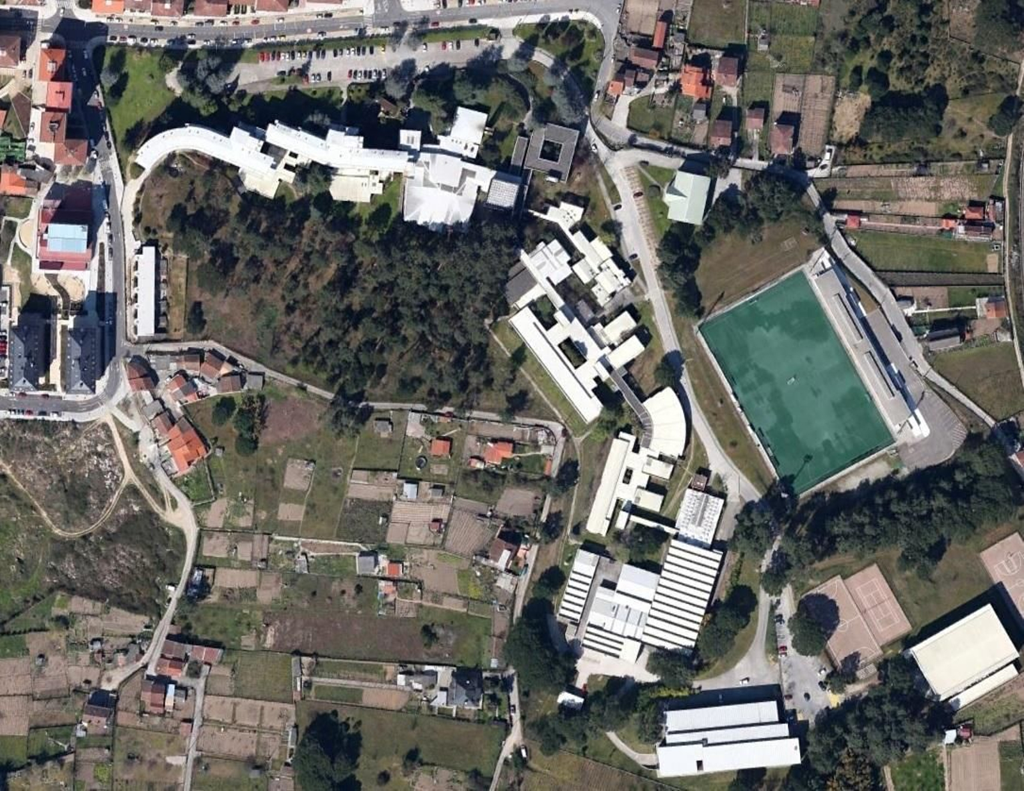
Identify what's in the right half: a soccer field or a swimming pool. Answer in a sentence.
You can see a soccer field in the right half.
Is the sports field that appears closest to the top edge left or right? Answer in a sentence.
The sports field that appears closest to the top edge is on the right side of the image.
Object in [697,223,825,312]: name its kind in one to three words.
sports field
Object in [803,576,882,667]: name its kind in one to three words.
sports court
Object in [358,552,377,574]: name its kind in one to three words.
house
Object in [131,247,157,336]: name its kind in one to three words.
building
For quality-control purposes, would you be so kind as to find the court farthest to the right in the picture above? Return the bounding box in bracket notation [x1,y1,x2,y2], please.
[980,533,1024,625]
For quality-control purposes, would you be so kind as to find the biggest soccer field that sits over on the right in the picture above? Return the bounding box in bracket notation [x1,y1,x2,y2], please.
[699,271,894,495]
